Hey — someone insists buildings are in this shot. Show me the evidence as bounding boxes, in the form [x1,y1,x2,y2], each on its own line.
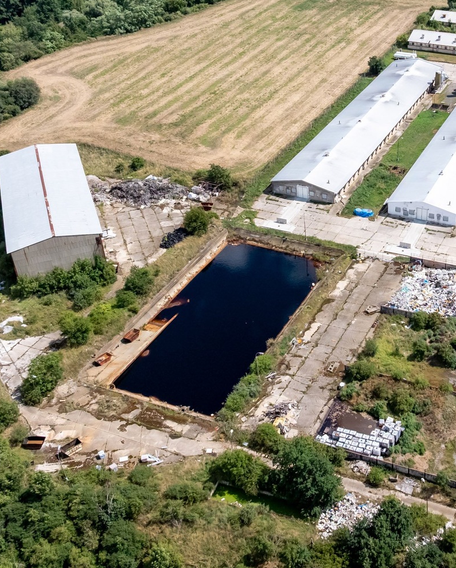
[271,59,444,202]
[430,10,456,28]
[387,110,456,225]
[0,144,109,290]
[409,29,456,54]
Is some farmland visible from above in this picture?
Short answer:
Yes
